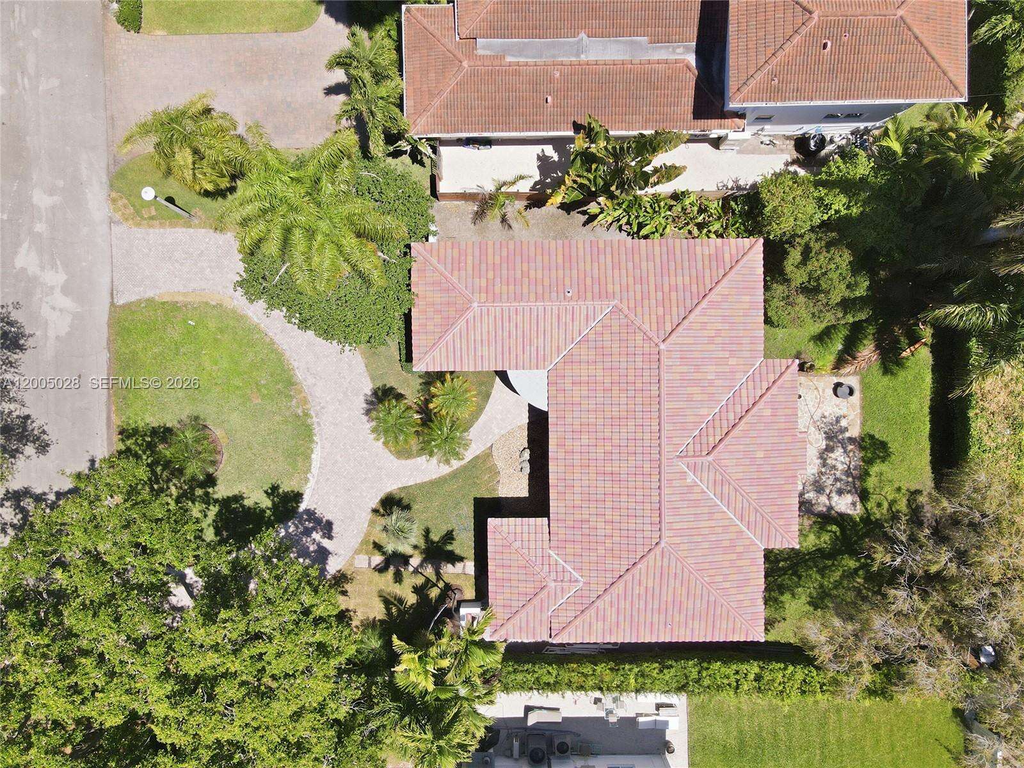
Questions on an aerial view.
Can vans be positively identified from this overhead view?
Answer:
No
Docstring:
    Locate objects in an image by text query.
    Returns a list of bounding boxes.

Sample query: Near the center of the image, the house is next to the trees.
[408,236,808,645]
